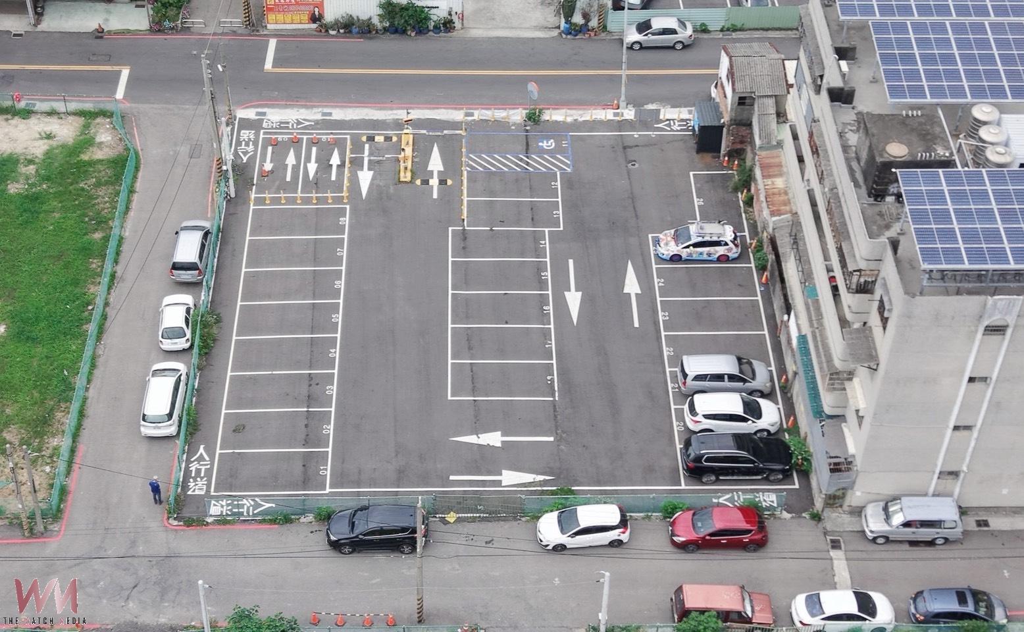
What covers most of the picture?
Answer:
paved ground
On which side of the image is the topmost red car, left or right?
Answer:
right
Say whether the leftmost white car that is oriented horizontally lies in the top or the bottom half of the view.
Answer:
bottom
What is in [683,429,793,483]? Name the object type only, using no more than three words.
car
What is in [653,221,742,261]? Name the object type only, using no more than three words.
car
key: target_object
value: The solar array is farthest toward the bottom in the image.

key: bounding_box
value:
[899,171,1024,295]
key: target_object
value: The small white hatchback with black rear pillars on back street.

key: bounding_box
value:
[534,504,630,553]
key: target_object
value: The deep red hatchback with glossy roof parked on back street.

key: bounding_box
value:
[669,504,770,553]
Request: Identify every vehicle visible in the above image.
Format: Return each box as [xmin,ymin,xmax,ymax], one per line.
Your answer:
[676,352,771,398]
[685,390,781,438]
[326,505,429,557]
[653,221,742,261]
[534,504,630,553]
[860,495,967,546]
[789,587,899,632]
[670,583,776,632]
[155,290,199,352]
[622,16,696,50]
[669,504,770,553]
[137,361,188,438]
[170,219,213,283]
[683,429,793,483]
[906,586,1015,632]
